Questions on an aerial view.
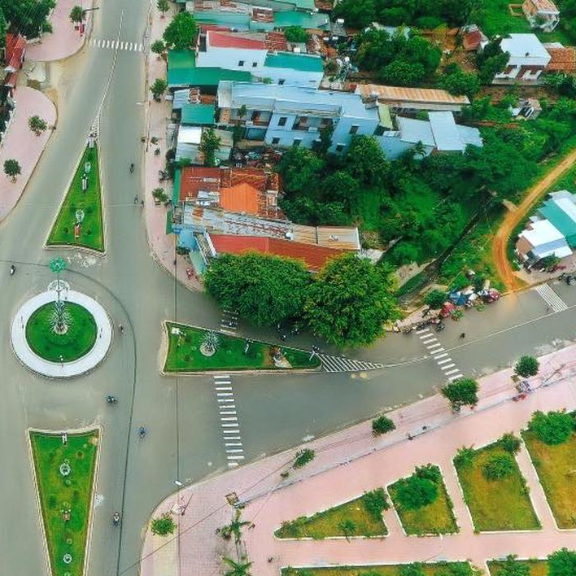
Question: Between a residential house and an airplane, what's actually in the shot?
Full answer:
It is a residential house that can be seen here.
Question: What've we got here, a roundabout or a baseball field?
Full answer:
This aerial view contains a roundabout.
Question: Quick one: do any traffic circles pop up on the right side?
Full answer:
No, there is no traffic circle on the right side.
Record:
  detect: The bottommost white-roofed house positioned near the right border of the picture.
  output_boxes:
[507,219,573,266]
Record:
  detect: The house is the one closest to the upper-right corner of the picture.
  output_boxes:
[515,0,561,31]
